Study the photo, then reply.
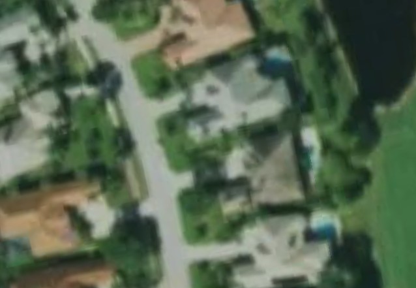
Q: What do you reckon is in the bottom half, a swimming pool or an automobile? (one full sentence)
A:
The feature located in the bottom half is a swimming pool.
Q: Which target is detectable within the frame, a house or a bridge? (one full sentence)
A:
The one in the frame is a house.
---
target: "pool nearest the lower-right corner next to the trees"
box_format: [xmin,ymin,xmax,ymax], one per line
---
[309,209,344,241]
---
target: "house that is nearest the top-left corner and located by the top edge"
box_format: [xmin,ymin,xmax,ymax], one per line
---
[0,10,39,64]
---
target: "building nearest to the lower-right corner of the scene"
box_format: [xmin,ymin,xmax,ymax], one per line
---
[233,215,332,288]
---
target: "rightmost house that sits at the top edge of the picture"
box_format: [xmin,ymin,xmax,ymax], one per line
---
[163,0,255,73]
